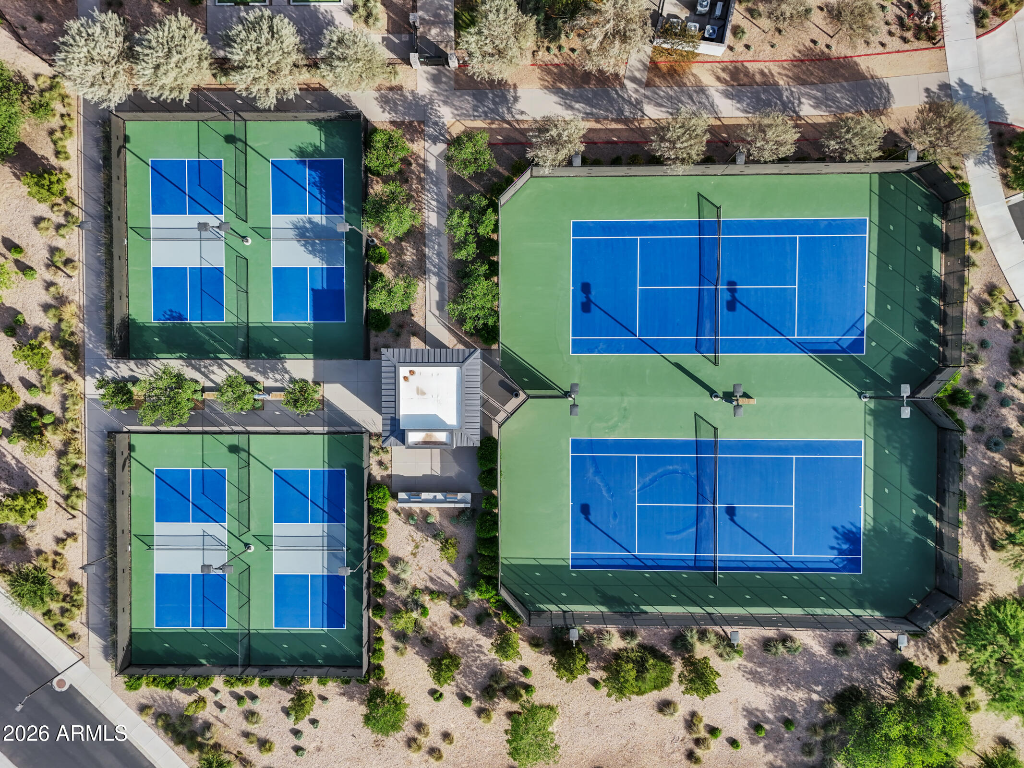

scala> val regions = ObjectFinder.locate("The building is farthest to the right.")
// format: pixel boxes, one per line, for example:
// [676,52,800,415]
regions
[380,348,481,449]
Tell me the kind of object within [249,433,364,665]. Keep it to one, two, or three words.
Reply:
sports court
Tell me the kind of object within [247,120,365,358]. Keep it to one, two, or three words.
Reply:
sports court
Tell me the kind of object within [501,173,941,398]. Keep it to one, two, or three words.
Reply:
tennis court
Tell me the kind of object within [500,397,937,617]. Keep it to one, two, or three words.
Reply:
tennis court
